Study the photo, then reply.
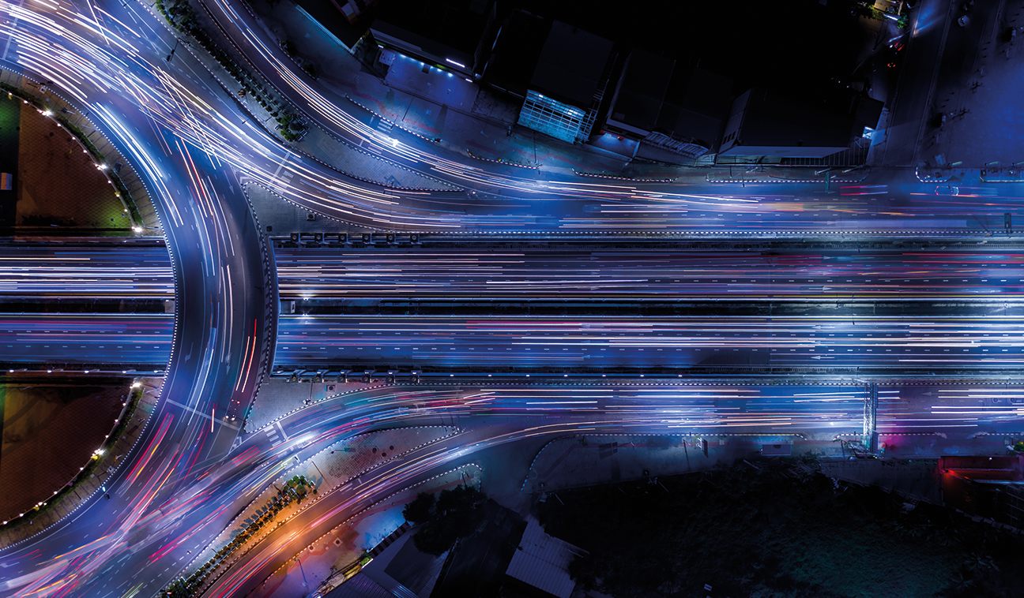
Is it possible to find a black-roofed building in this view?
Yes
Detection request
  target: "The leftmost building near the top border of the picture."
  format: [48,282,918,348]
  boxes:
[294,0,378,65]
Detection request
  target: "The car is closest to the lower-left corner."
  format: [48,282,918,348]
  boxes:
[224,399,239,422]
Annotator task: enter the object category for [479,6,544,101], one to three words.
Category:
building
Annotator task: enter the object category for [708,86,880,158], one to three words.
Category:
building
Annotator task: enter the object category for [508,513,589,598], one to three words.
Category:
shed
